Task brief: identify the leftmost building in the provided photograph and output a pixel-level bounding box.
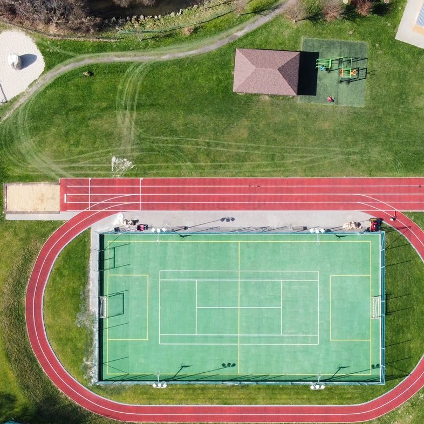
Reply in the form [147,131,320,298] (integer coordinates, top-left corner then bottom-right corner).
[233,49,300,97]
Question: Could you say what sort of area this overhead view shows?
sports ground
